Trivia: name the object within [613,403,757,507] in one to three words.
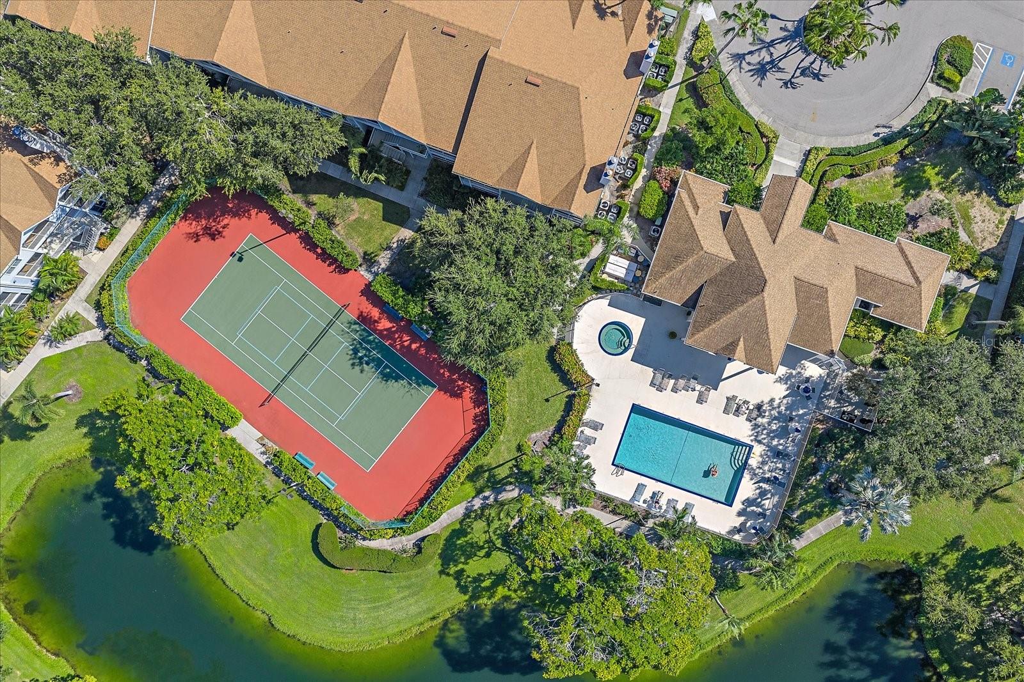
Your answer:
swimming pool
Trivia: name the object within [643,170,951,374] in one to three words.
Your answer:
building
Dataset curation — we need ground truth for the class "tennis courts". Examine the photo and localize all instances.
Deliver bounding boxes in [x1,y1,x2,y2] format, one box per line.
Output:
[130,192,488,522]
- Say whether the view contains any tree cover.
Yes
